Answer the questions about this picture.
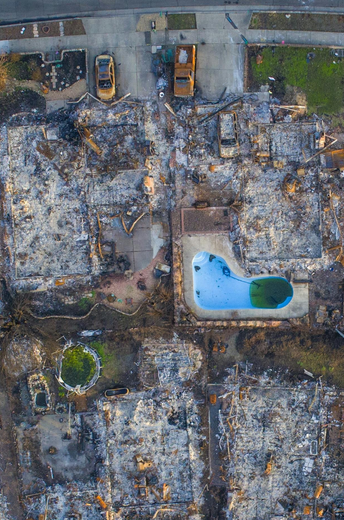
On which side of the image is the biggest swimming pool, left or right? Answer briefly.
right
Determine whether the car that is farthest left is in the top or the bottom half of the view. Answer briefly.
top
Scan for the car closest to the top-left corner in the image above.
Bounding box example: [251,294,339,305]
[94,53,116,100]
